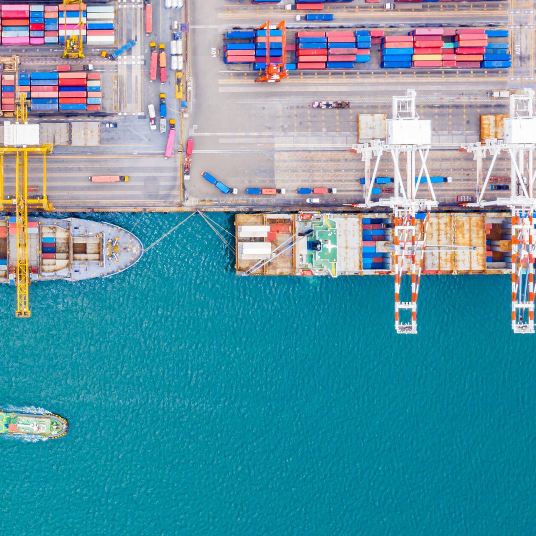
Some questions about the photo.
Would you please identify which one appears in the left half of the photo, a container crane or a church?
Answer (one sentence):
Looking in the left half of the photo, you will find a container crane.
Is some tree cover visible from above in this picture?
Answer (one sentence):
No, there is no tree cover in the image.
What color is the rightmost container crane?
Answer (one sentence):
The color of the rightmost container crane is white.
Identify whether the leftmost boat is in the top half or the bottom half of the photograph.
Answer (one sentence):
The bottom half of the photo is where the leftmost boat is.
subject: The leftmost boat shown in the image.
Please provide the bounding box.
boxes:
[0,410,70,440]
